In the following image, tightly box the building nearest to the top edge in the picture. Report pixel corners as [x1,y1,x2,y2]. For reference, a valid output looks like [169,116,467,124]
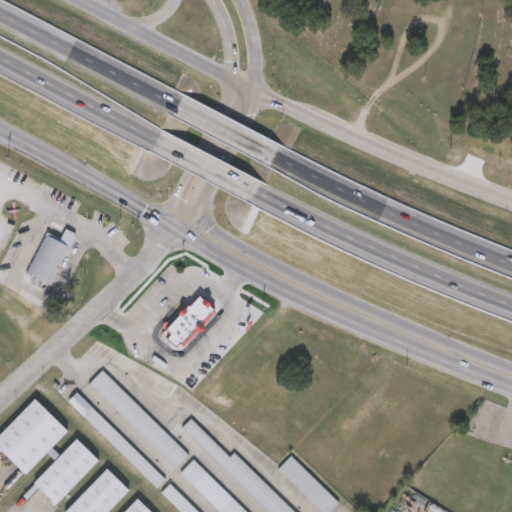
[27,228,76,284]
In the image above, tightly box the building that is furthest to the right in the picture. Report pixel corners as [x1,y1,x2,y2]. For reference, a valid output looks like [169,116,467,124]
[279,456,338,512]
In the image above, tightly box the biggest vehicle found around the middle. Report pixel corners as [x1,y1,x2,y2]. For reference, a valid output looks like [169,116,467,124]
[284,208,313,225]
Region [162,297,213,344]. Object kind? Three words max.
building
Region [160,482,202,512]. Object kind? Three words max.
building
